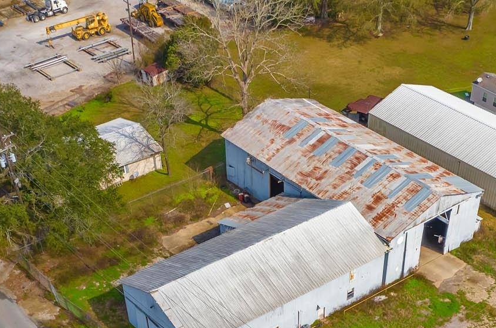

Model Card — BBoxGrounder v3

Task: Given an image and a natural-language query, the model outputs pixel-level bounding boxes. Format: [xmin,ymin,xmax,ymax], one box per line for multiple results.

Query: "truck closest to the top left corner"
[24,0,68,23]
